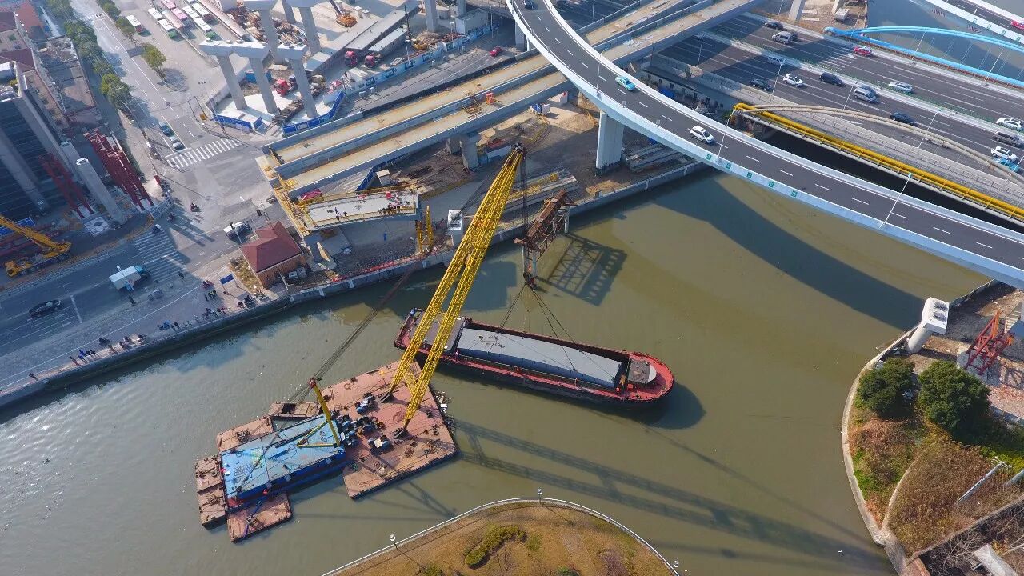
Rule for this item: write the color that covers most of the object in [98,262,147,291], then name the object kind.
blue truck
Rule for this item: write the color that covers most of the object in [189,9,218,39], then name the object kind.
white bus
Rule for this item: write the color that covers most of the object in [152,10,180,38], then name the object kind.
white bus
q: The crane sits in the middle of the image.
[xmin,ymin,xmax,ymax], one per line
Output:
[245,139,579,486]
